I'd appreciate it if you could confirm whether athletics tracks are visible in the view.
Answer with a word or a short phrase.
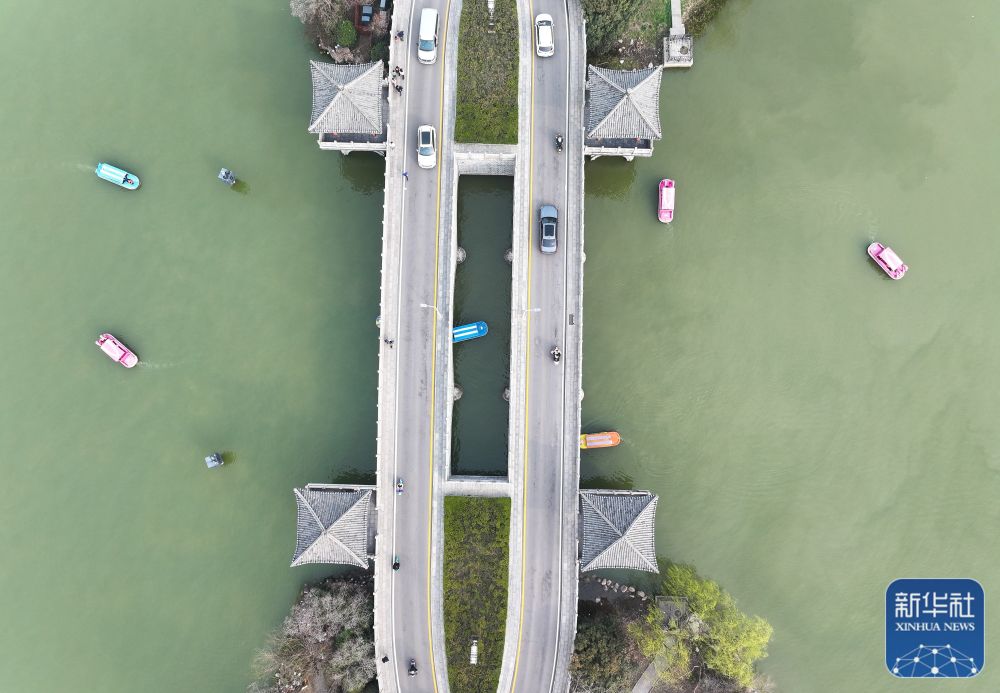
No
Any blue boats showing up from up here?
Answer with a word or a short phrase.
Yes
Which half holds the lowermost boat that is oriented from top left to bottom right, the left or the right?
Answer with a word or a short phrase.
left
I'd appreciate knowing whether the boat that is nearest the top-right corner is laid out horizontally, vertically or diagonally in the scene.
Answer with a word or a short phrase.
diagonally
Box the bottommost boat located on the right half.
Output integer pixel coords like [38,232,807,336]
[581,431,620,448]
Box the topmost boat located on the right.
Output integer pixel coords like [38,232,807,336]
[656,181,673,226]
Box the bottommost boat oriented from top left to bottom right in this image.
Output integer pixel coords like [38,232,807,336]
[101,334,143,370]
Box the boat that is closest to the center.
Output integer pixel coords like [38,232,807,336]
[455,321,489,342]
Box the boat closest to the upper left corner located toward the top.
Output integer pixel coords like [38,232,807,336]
[101,163,146,192]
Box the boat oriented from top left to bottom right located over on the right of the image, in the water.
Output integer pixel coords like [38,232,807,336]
[860,243,904,281]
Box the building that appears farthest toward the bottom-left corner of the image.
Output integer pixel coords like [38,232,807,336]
[290,485,376,569]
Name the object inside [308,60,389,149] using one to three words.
building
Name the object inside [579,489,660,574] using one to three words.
building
